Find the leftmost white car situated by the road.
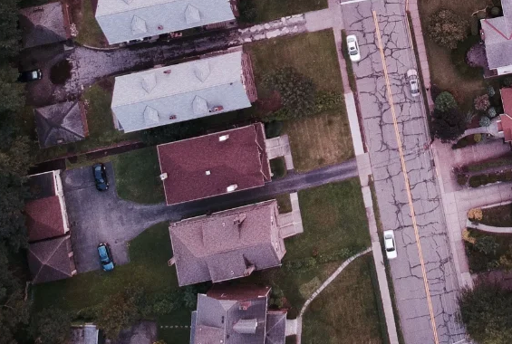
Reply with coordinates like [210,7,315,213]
[345,33,361,63]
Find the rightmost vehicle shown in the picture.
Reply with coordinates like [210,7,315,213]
[406,68,421,97]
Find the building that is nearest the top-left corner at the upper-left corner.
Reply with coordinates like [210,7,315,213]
[19,1,78,49]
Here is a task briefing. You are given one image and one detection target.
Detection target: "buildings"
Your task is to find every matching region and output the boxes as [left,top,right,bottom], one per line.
[156,122,294,206]
[34,98,95,148]
[19,1,78,49]
[24,167,75,242]
[109,46,256,133]
[479,0,512,79]
[168,195,303,287]
[70,320,104,344]
[190,285,289,344]
[30,230,84,285]
[93,0,238,45]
